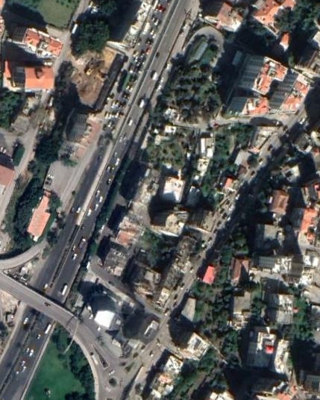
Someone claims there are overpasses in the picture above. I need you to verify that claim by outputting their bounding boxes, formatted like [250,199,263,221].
[0,267,112,354]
